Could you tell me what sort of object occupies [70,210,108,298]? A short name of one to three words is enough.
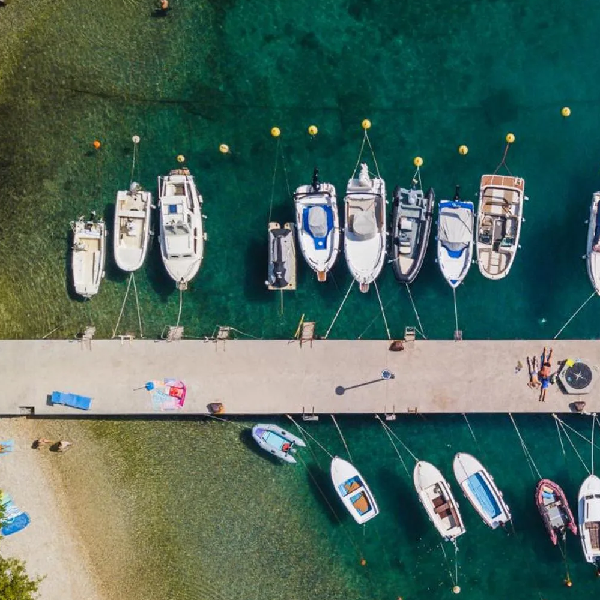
boat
